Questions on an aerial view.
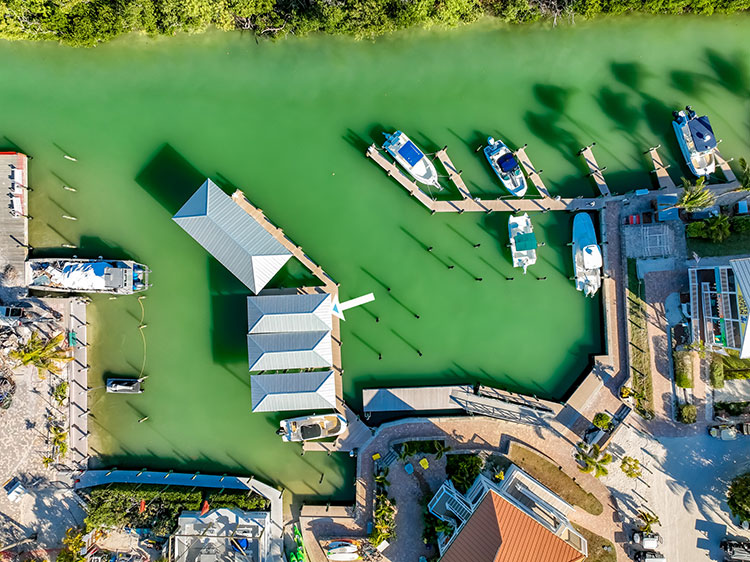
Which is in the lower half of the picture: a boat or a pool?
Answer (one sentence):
The feature located in the lower half of the picture is a boat.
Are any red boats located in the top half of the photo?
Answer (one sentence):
No, no red boat can be made out in the top half of the photo.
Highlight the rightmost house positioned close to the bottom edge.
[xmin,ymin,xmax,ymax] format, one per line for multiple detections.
[426,458,593,562]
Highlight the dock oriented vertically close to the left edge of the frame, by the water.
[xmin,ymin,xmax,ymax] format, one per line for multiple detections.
[0,151,40,297]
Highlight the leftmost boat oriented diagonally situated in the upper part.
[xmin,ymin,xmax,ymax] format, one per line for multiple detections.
[385,130,441,188]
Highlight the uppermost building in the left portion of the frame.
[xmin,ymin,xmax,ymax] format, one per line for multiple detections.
[171,178,292,295]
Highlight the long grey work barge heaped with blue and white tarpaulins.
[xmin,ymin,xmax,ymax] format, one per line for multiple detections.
[29,256,152,294]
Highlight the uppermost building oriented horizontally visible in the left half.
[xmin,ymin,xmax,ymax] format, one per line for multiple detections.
[247,293,332,334]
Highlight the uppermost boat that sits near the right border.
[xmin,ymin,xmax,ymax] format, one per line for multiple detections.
[669,106,722,180]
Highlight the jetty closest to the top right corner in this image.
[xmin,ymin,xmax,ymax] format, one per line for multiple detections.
[711,139,738,182]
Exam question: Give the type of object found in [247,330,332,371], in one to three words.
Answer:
building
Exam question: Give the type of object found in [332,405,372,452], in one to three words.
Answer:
pier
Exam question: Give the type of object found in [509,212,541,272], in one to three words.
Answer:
boat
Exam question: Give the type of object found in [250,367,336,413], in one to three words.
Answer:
building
